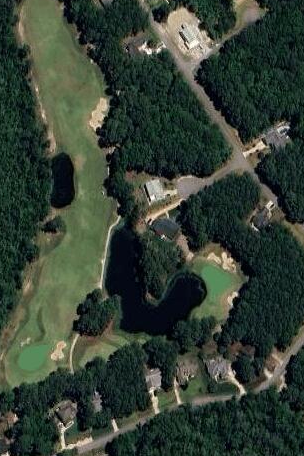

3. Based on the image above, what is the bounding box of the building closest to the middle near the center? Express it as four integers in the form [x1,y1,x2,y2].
[152,218,178,238]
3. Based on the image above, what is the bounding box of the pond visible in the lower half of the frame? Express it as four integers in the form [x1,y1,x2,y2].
[105,228,206,334]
